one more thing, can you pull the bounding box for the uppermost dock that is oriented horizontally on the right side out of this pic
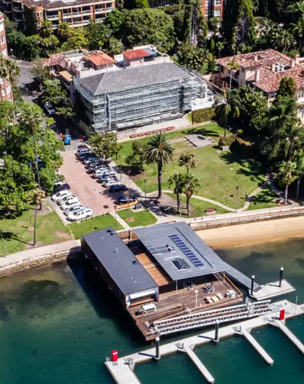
[248,279,297,302]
